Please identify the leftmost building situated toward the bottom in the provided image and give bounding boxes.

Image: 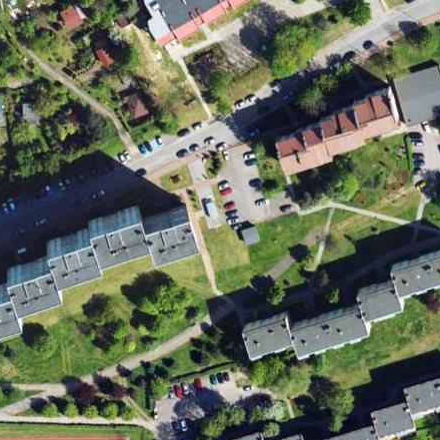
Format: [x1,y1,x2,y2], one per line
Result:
[0,209,199,340]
